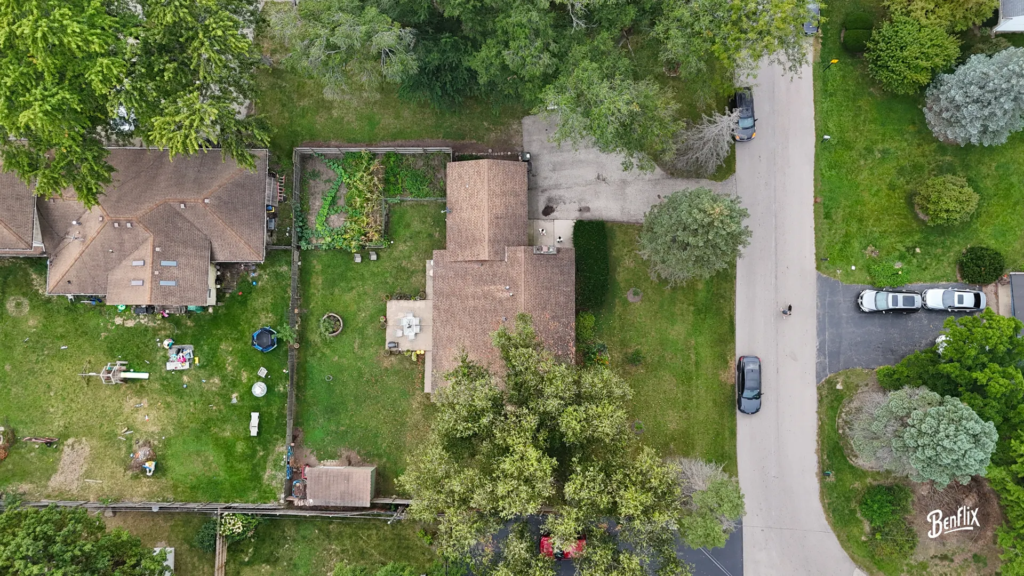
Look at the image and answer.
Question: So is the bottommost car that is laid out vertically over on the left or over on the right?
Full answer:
It is on the right.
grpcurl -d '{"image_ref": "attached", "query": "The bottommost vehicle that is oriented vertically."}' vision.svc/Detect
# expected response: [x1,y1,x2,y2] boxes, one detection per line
[737,355,766,414]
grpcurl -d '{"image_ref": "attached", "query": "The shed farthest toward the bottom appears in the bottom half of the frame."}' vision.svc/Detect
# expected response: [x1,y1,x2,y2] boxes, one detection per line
[307,464,377,507]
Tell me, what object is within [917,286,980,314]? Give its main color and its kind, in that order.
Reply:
white car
